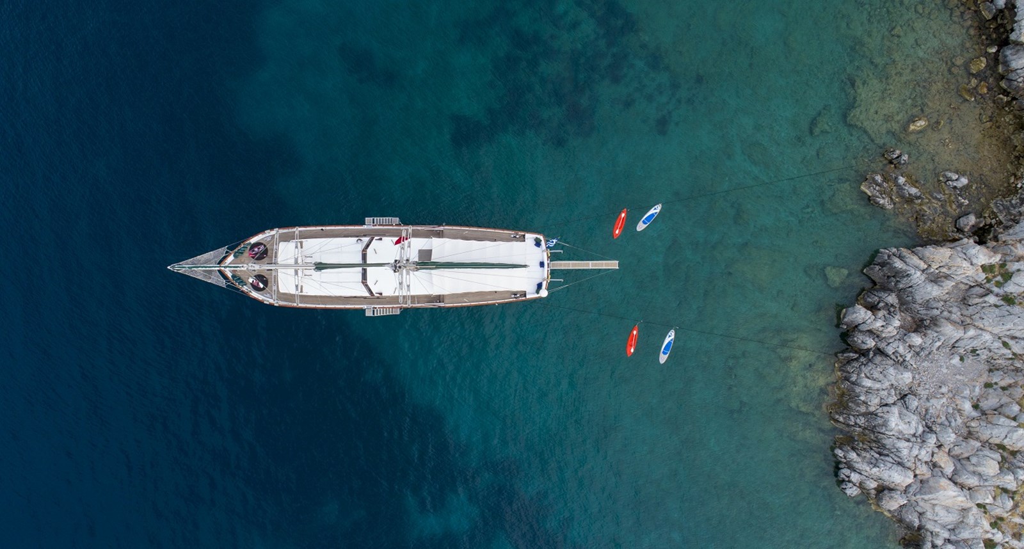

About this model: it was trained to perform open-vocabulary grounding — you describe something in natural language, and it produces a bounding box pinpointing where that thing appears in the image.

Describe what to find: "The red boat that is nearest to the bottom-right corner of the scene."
[627,325,639,357]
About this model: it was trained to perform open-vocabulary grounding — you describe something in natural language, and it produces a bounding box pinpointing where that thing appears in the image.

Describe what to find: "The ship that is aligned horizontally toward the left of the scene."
[169,217,619,316]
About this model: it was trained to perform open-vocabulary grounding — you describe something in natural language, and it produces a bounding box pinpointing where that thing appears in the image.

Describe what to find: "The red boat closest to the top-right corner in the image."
[613,208,627,239]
